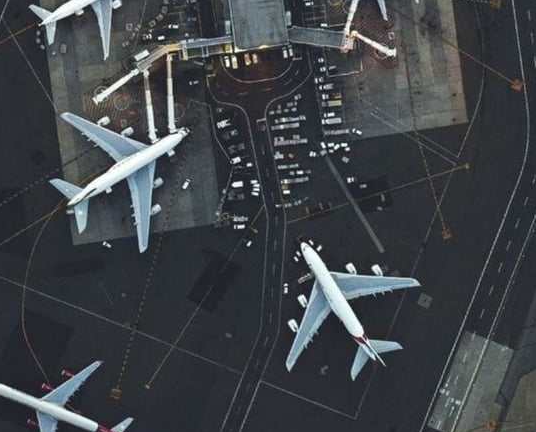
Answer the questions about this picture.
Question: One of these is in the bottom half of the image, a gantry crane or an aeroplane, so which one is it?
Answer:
aeroplane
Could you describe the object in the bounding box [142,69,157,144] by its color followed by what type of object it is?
white jet bridge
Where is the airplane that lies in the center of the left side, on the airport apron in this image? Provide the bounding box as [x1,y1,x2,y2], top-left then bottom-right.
[50,114,187,256]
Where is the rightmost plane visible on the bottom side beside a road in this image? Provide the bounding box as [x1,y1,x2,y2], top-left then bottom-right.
[286,243,429,379]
